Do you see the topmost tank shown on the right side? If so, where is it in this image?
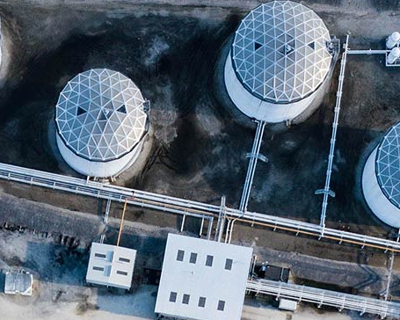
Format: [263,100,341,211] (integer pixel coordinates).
[224,0,340,122]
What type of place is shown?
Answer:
industrial area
